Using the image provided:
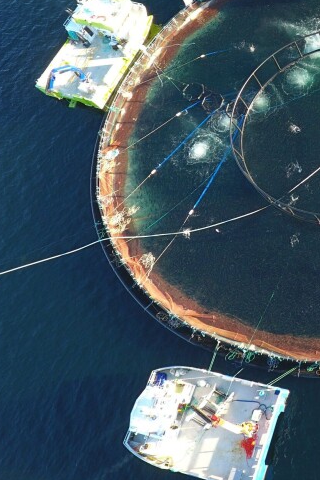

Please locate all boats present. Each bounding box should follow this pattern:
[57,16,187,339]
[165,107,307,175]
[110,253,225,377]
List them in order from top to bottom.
[31,0,162,111]
[119,367,298,480]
